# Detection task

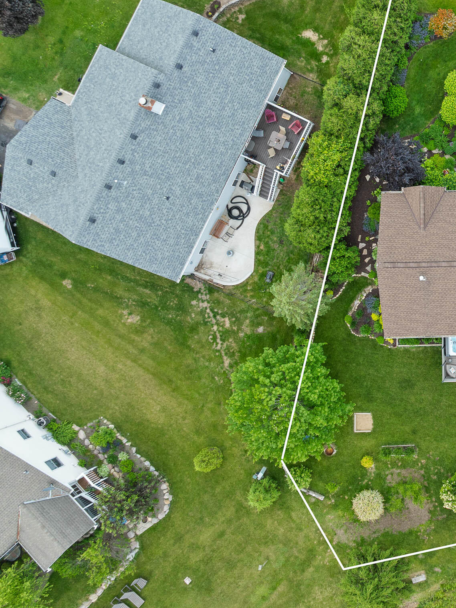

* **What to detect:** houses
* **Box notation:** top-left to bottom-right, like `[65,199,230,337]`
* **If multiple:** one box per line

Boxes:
[0,0,294,285]
[377,186,456,340]
[0,388,106,575]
